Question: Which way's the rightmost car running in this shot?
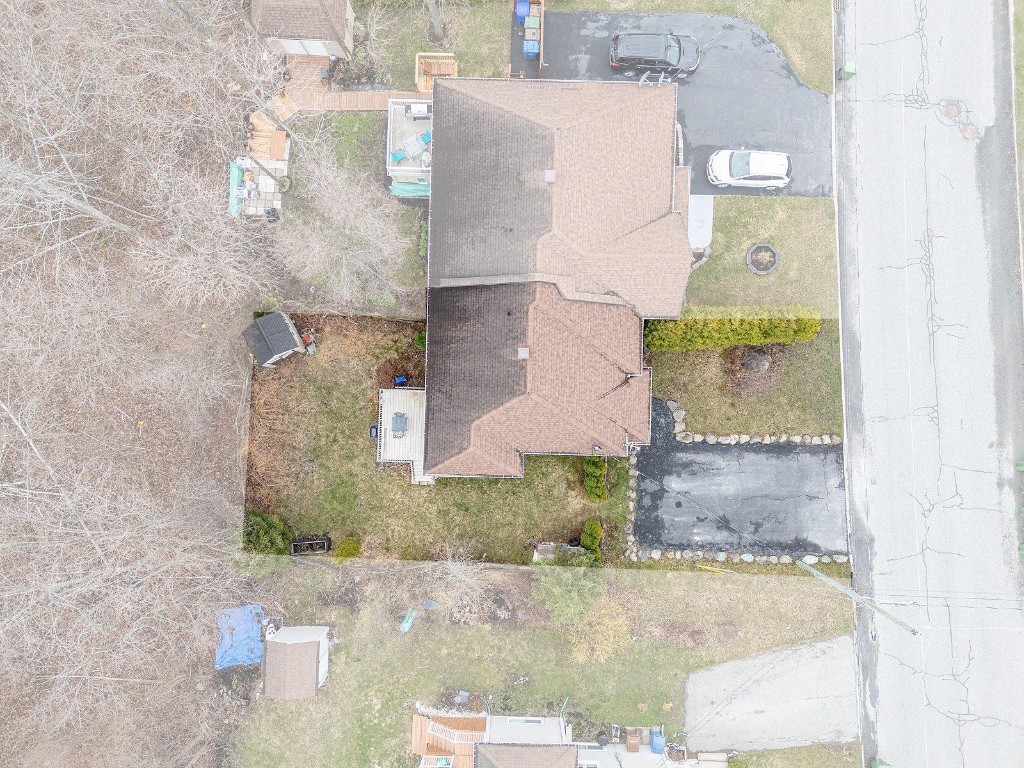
horizontally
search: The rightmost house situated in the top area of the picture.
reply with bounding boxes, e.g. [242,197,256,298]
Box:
[424,71,693,478]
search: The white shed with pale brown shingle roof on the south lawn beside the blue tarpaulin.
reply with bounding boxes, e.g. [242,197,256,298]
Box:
[263,626,329,699]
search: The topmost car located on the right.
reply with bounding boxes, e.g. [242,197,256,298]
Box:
[609,28,699,79]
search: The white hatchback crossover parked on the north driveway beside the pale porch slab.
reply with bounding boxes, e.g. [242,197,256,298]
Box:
[706,143,796,190]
